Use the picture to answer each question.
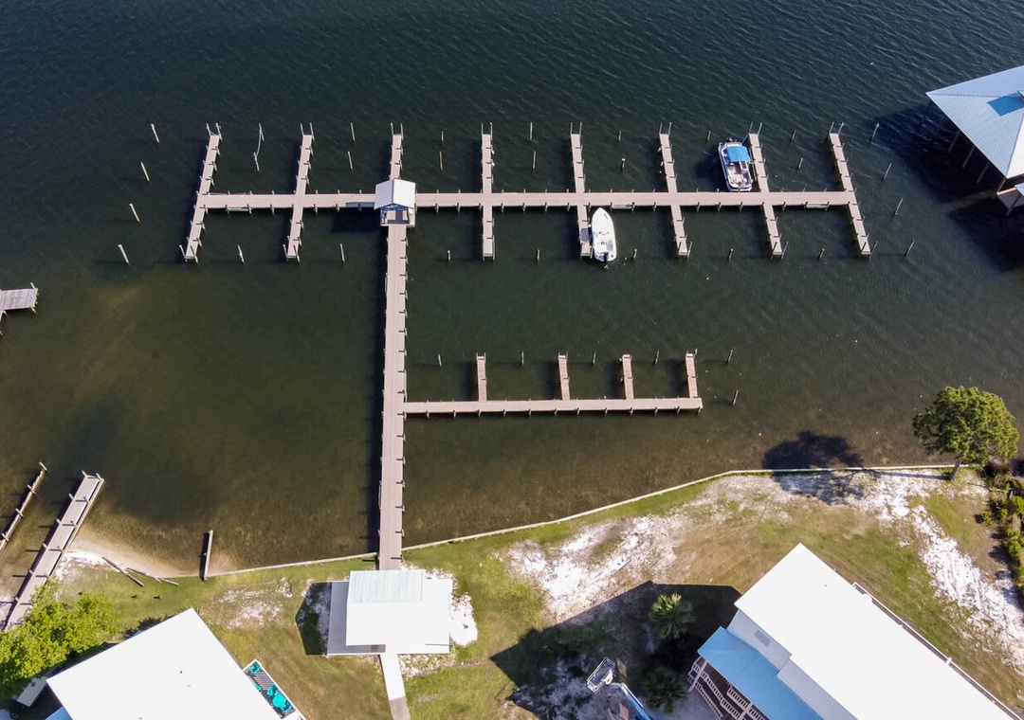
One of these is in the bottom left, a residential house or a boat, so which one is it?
residential house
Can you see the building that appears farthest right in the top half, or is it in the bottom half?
top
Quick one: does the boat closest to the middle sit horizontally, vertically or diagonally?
vertically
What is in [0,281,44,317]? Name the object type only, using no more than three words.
pier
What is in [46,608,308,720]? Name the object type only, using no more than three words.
house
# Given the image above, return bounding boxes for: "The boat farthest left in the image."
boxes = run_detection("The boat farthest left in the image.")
[592,206,618,264]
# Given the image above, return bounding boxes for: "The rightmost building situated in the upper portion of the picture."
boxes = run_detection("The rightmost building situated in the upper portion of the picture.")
[923,62,1024,219]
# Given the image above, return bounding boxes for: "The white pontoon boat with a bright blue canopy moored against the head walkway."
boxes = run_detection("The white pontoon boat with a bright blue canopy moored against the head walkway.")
[718,139,752,191]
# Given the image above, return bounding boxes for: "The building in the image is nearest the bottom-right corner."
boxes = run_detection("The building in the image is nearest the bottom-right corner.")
[685,543,1024,720]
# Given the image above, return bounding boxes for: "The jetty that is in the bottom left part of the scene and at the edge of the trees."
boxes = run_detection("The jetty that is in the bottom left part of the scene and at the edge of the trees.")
[13,471,105,622]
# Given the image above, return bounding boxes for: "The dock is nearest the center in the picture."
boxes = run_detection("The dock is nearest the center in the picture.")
[180,121,877,571]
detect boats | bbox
[718,139,752,191]
[592,206,618,264]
